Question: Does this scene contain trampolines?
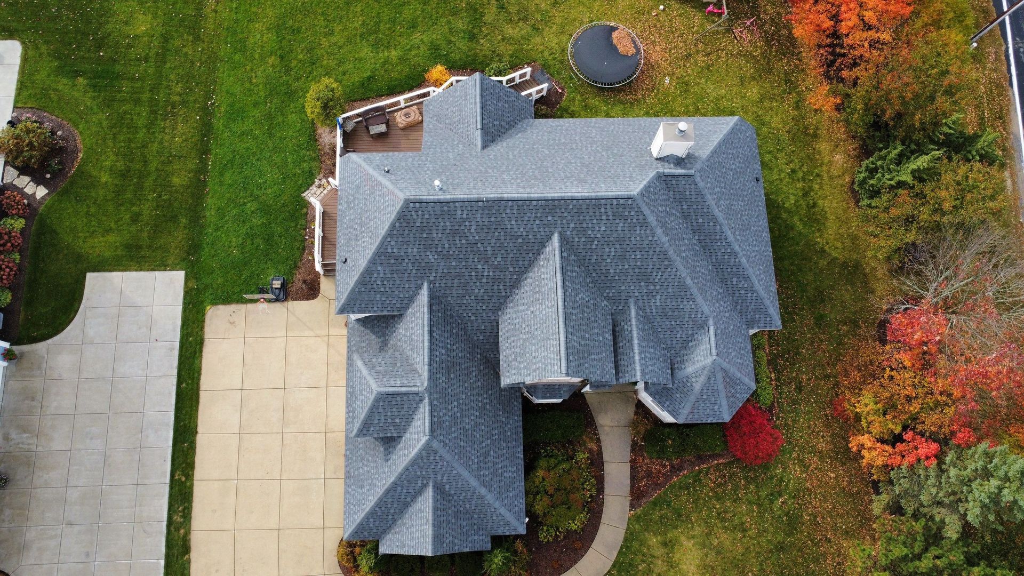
Yes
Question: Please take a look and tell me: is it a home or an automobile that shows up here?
home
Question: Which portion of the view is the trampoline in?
top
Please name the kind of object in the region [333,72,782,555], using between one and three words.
house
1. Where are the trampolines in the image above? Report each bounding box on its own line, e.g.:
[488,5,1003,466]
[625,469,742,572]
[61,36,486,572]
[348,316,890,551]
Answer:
[569,22,643,93]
